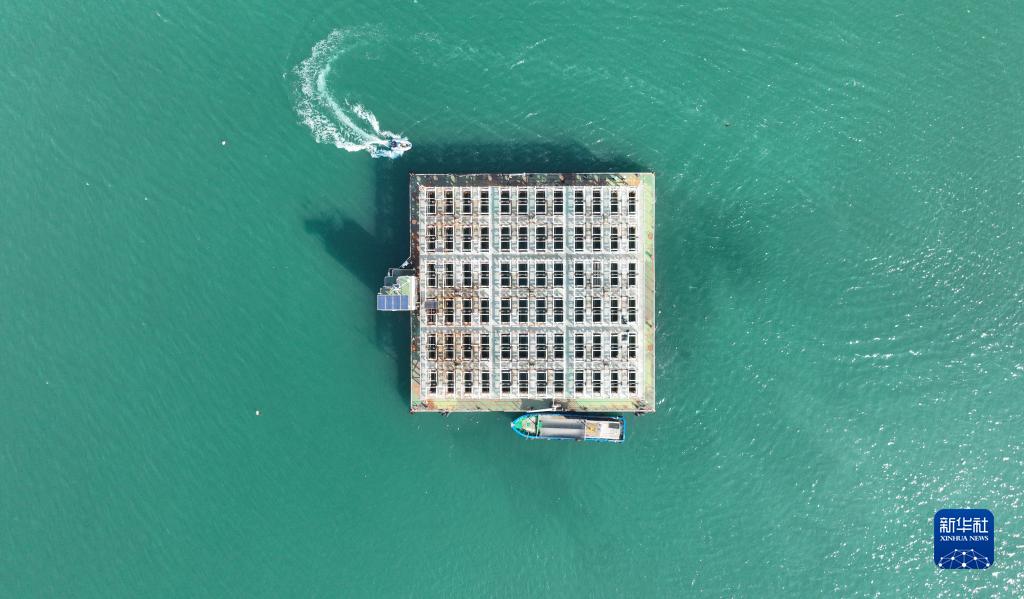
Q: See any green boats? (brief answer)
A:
No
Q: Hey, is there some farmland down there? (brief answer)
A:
No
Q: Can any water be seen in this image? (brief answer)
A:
Yes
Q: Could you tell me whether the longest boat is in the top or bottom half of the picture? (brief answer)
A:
bottom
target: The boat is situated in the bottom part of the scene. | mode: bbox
[511,412,626,441]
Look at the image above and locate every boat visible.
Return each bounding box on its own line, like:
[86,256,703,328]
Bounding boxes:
[388,139,412,150]
[511,412,626,441]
